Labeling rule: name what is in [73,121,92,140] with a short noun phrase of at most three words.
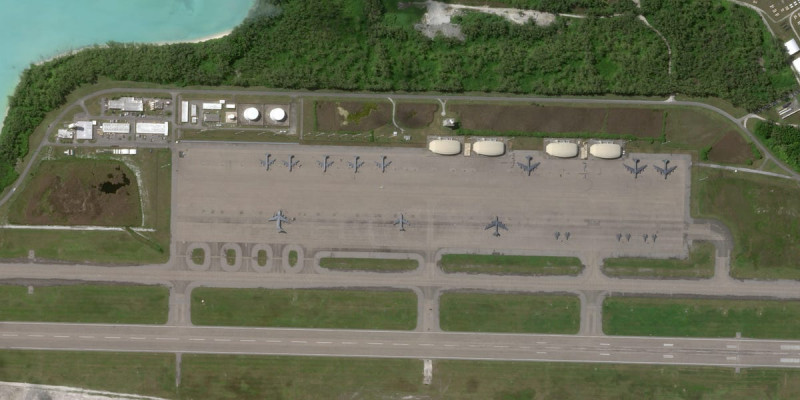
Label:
building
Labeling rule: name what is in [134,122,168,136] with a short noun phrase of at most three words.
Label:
building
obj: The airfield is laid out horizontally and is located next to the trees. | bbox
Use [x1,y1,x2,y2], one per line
[0,141,800,387]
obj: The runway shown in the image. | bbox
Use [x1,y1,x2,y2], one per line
[0,322,800,367]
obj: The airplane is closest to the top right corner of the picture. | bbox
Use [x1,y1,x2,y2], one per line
[655,159,677,180]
